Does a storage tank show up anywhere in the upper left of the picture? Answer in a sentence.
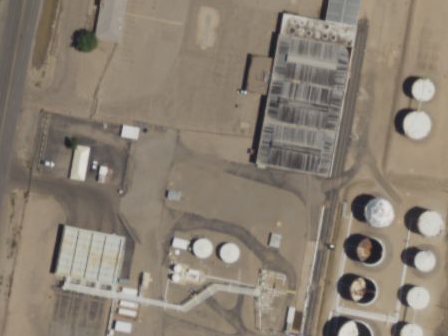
No, there's no storage tank to be seen in the upper left of the picture.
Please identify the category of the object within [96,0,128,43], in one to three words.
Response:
building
